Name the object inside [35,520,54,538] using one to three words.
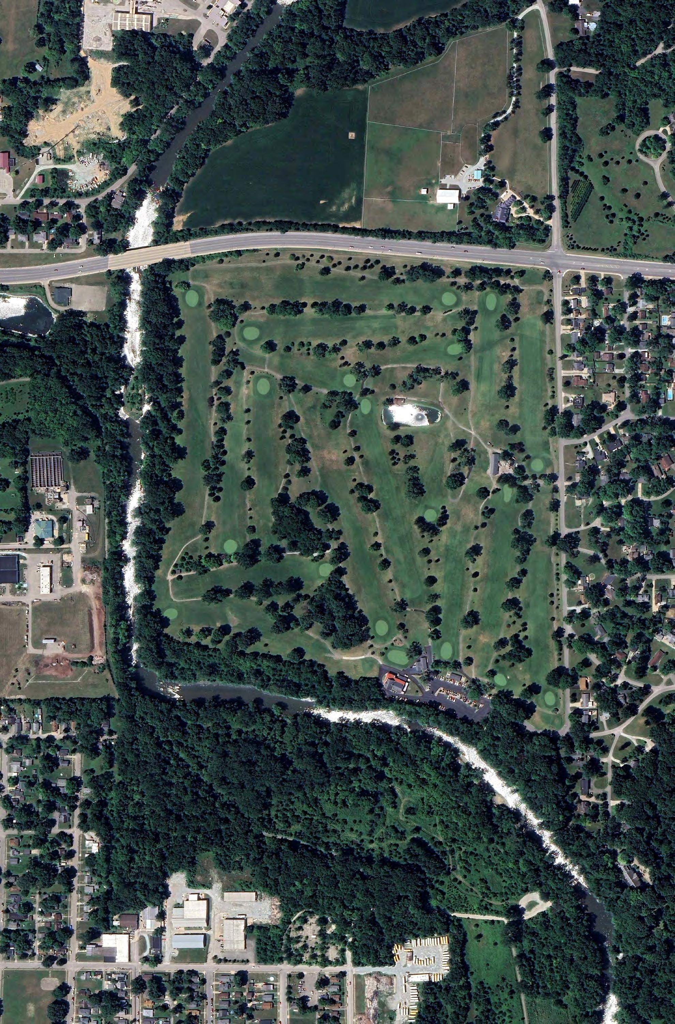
building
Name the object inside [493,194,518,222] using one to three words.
house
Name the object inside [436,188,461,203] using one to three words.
barn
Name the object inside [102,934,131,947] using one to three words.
building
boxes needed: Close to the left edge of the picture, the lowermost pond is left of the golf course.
[0,294,54,336]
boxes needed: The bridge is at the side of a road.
[107,240,196,270]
